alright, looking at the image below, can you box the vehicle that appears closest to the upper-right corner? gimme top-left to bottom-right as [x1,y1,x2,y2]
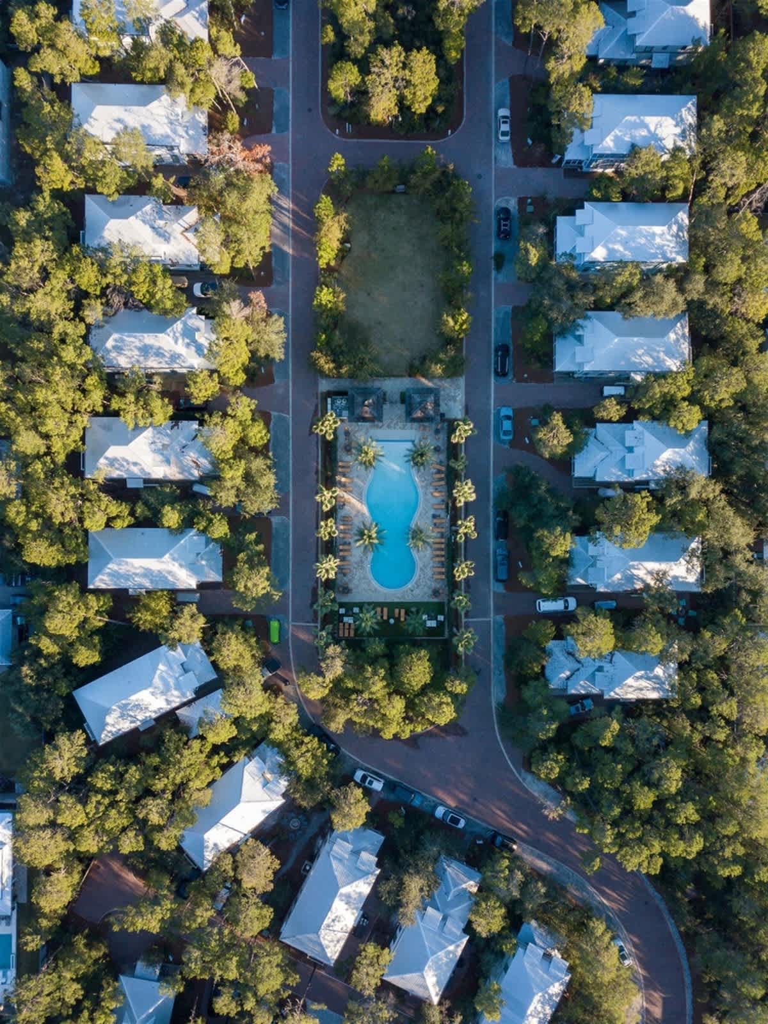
[497,106,513,140]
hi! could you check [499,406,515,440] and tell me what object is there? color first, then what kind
blue car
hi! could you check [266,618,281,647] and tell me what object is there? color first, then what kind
green car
